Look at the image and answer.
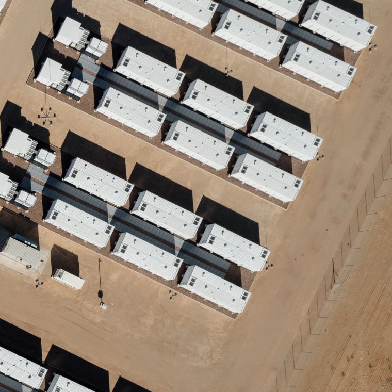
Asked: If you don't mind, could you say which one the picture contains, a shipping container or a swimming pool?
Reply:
shipping container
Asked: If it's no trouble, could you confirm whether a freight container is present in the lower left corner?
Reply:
Yes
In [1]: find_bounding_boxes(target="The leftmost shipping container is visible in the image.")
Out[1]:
[0,349,46,390]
